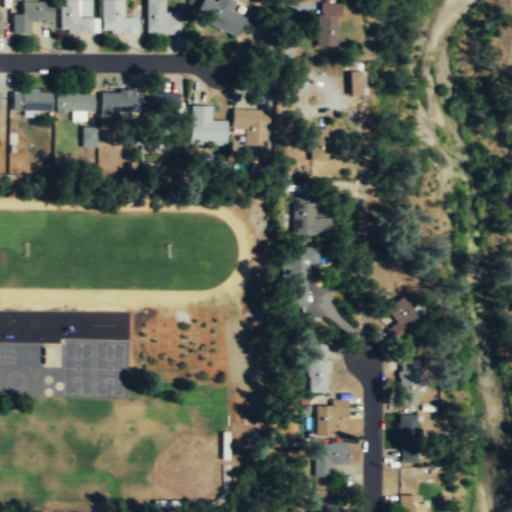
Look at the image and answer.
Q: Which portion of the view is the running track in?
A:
left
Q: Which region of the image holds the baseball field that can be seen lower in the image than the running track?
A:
bottom left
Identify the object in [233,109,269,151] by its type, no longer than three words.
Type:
house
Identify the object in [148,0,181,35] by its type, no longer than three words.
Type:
house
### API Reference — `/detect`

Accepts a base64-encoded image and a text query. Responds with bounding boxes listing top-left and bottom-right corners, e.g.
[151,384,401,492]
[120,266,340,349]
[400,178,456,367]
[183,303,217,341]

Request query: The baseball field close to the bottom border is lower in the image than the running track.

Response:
[0,384,228,512]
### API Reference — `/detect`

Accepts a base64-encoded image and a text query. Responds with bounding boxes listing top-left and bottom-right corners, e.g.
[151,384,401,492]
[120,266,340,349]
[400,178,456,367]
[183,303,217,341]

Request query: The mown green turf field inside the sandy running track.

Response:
[0,211,238,290]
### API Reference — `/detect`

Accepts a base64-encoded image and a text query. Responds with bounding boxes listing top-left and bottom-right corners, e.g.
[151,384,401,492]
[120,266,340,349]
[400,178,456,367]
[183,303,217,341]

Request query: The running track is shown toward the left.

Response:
[0,199,248,312]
